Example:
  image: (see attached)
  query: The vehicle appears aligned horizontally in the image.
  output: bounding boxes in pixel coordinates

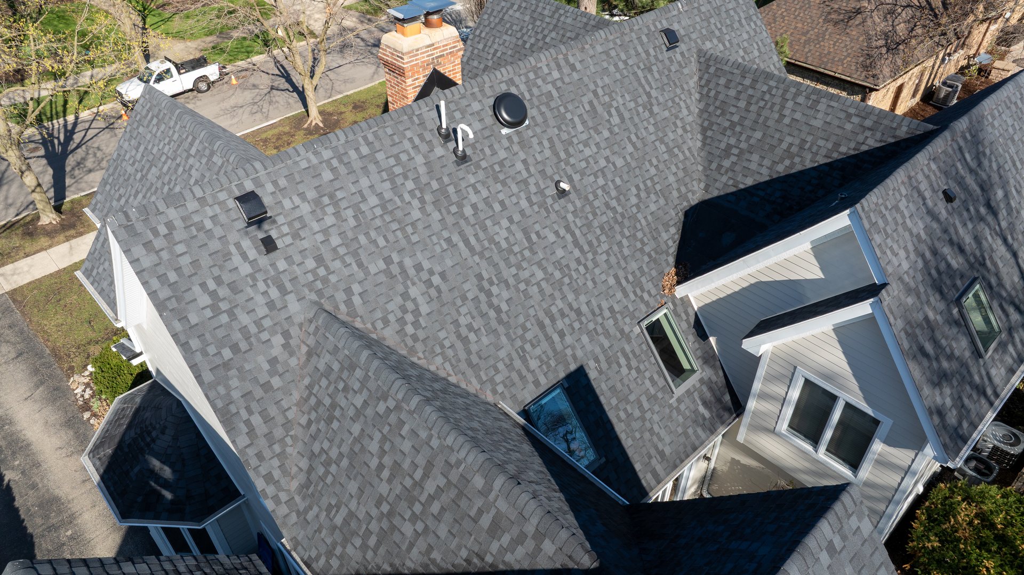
[113,55,224,107]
